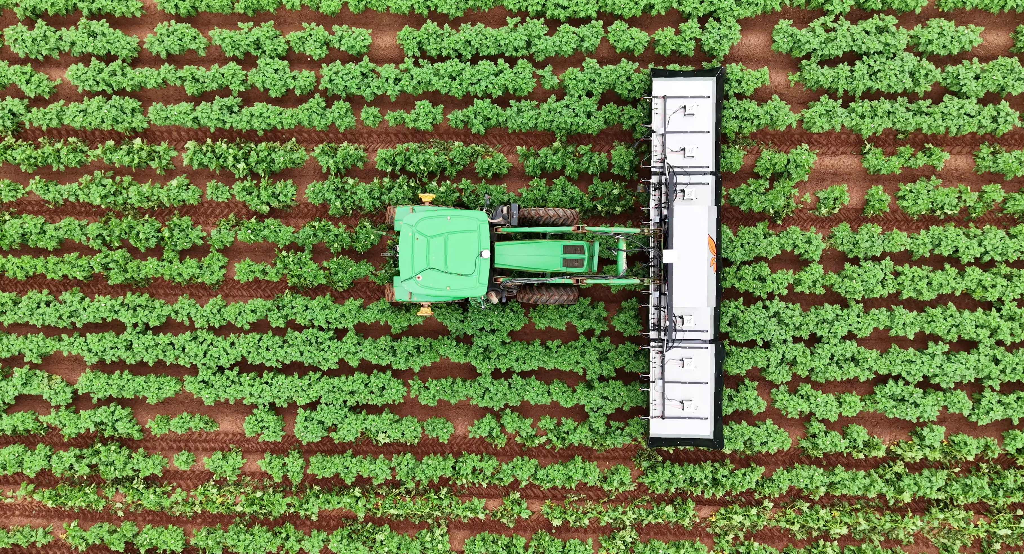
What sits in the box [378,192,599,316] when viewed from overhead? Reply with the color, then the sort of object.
green work vehicle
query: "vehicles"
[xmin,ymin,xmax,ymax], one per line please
[489,224,667,291]
[378,192,599,316]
